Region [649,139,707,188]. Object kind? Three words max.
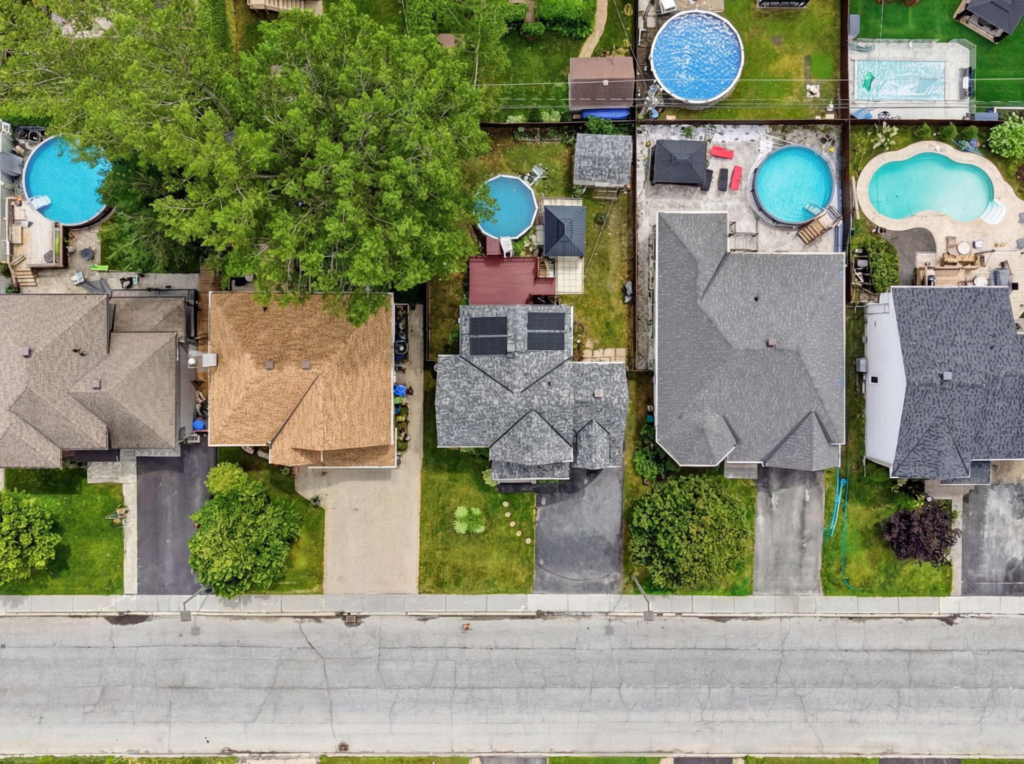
gazebo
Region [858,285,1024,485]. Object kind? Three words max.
house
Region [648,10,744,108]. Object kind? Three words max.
swimming pool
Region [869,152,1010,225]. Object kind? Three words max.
swimming pool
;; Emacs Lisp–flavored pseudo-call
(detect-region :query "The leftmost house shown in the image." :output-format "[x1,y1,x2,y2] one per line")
[0,289,208,469]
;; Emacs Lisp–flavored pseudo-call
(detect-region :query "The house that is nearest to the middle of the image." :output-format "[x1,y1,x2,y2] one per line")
[435,304,629,484]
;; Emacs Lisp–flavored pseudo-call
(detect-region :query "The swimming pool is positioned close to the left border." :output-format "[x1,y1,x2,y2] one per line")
[22,137,122,227]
